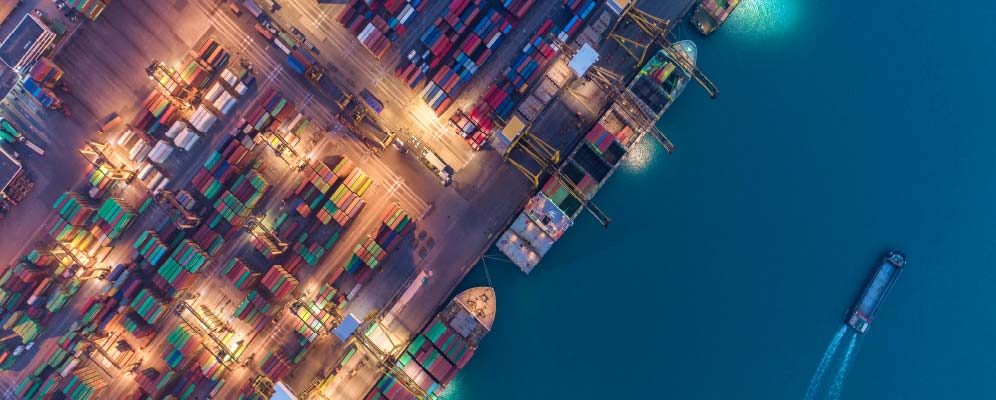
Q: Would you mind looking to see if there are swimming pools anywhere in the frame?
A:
No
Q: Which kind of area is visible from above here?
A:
port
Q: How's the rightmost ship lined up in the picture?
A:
diagonally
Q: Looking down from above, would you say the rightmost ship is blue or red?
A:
blue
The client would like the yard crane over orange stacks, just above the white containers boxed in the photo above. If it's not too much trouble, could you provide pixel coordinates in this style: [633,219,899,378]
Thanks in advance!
[146,62,200,107]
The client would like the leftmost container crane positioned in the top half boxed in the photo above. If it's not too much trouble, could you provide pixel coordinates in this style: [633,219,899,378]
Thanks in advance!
[83,138,140,180]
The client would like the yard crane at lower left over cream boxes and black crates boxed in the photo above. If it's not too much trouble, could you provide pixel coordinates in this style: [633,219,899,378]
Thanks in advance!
[84,335,141,381]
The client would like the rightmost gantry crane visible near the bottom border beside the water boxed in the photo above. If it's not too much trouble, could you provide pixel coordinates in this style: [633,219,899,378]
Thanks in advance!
[324,305,426,400]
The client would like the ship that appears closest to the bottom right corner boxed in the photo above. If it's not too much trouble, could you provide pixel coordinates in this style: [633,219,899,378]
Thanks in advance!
[848,255,907,333]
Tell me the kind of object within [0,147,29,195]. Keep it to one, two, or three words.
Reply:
building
